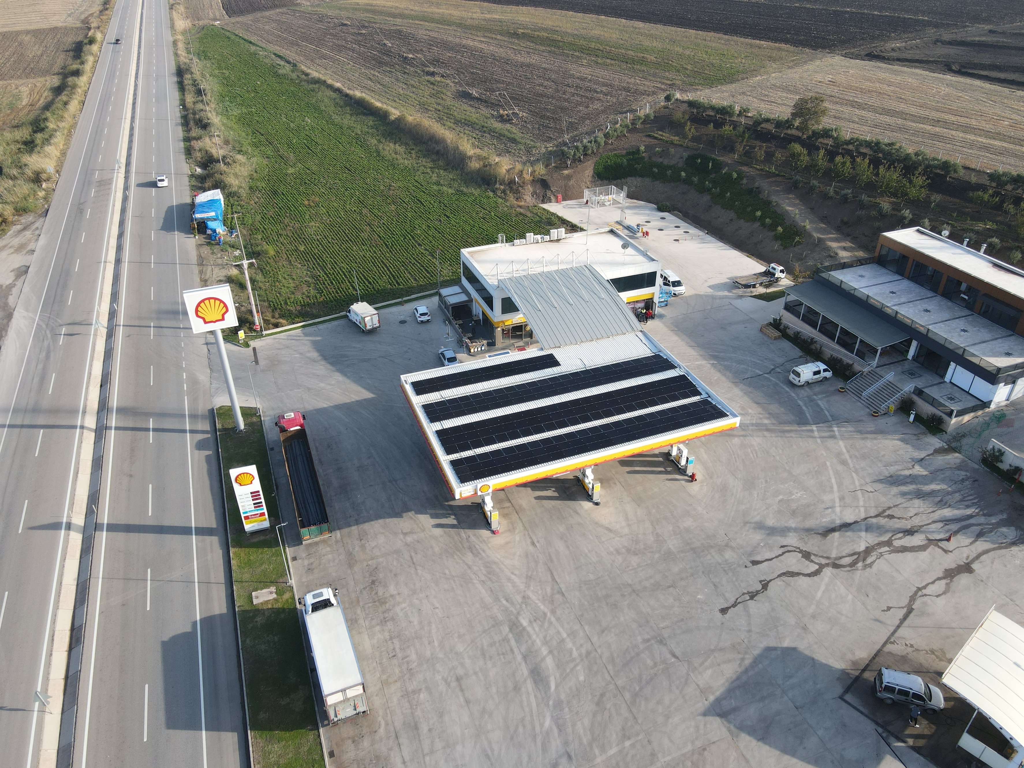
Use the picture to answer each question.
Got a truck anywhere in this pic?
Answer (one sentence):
Yes, this view includes a truck.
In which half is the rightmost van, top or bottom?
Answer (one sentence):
The rightmost van is in the bottom half of the image.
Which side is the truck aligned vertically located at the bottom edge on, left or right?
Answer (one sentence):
The truck aligned vertically located at the bottom edge sits on the left side.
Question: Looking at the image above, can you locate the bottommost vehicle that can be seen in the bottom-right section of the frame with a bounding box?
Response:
[874,667,947,716]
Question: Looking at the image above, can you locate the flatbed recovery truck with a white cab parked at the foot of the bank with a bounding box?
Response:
[729,264,788,290]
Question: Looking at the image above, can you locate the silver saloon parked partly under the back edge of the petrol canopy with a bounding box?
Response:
[434,342,462,365]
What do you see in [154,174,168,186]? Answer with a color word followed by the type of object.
white vehicle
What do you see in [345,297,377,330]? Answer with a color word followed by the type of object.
white van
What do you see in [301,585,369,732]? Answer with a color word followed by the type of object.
white truck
